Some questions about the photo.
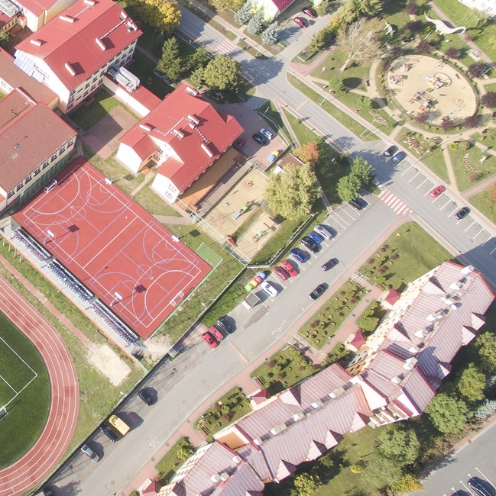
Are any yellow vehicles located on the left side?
Yes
